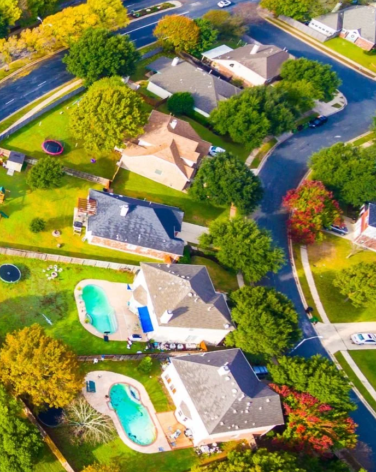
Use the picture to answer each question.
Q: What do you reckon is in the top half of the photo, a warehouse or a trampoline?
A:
trampoline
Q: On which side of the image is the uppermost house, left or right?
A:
right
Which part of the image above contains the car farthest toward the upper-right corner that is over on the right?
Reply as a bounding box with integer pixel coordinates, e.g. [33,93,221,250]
[309,114,329,126]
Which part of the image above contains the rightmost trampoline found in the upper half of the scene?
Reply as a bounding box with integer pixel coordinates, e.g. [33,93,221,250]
[42,136,62,155]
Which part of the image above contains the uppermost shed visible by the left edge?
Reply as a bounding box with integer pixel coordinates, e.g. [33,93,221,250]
[5,152,26,175]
